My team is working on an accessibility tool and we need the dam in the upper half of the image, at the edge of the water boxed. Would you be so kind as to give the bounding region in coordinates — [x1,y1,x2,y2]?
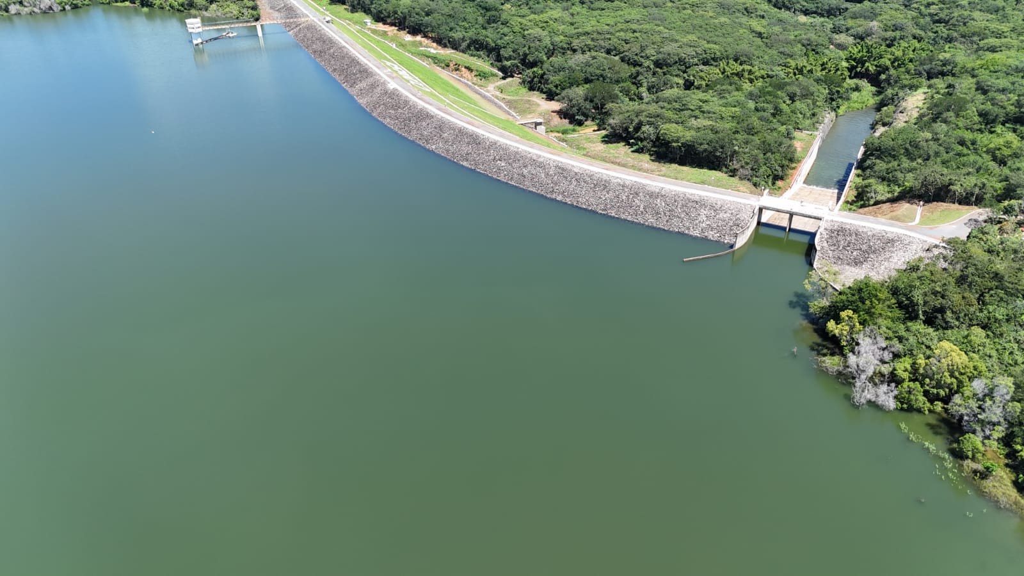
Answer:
[257,0,760,245]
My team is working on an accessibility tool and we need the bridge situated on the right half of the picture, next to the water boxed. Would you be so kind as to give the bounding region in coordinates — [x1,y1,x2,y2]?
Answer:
[757,192,833,235]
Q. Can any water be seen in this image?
Yes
